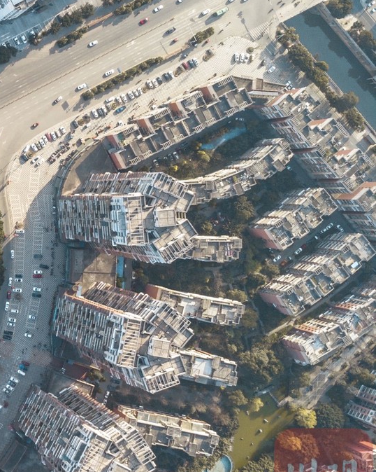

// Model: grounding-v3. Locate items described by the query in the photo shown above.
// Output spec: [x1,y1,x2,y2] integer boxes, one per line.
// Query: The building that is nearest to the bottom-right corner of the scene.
[344,419,376,472]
